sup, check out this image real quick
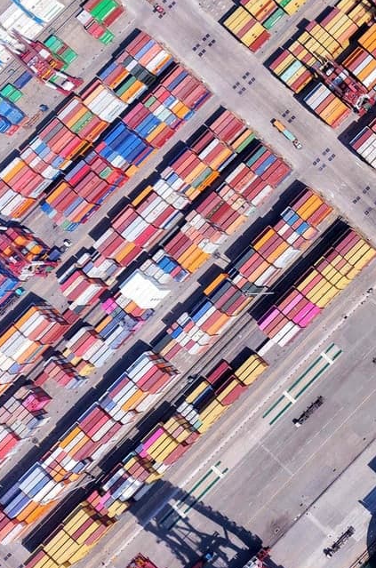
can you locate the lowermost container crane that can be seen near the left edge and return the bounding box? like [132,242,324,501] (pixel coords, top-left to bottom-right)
[0,212,74,289]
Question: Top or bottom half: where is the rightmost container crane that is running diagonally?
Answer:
top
